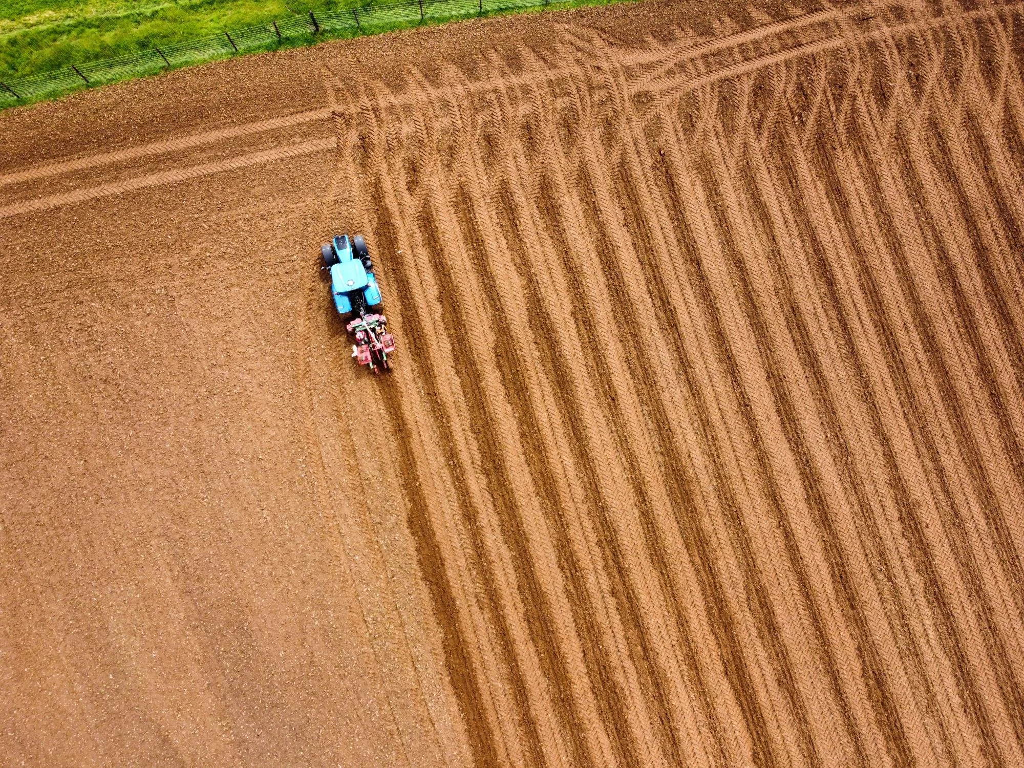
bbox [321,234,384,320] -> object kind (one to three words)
work vehicle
